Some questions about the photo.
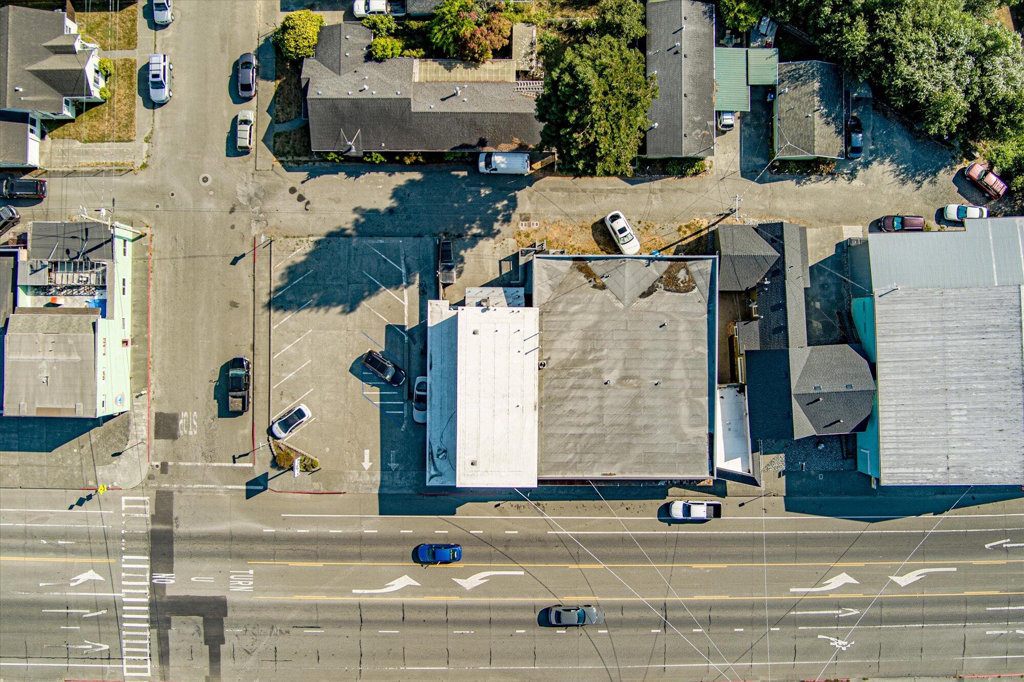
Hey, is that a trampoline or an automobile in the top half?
automobile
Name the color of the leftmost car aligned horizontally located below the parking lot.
blue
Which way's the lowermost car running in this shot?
from left to right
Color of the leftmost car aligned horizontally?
black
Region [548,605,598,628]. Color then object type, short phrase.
gray car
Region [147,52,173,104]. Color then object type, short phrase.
white car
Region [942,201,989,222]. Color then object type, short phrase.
white car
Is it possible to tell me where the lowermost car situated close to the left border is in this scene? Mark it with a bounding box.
[0,204,23,243]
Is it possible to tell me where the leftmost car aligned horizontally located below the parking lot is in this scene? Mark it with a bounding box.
[419,543,462,565]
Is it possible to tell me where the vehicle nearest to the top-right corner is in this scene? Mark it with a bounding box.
[962,164,1013,202]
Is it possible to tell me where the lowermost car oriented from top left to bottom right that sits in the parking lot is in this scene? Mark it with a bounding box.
[359,349,406,388]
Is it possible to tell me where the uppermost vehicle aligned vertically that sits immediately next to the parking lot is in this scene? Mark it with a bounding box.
[437,240,458,286]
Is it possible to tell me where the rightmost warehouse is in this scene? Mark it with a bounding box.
[853,218,1024,488]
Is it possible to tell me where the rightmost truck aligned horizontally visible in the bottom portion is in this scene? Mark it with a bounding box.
[670,500,722,522]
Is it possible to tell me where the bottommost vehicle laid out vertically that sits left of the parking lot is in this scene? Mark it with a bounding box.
[227,357,252,412]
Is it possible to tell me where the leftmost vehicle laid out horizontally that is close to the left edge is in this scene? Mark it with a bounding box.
[0,177,49,199]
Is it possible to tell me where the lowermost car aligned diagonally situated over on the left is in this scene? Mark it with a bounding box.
[272,402,313,441]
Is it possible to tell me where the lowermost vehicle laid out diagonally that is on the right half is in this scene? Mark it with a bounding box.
[604,208,641,255]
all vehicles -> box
[437,240,458,286]
[151,0,176,26]
[354,0,406,16]
[715,111,737,132]
[604,208,641,255]
[235,110,257,153]
[236,53,259,99]
[942,201,989,222]
[878,213,928,233]
[845,117,867,160]
[147,52,173,104]
[670,500,722,522]
[479,152,530,175]
[0,204,23,243]
[962,164,1013,202]
[0,177,49,199]
[272,402,313,441]
[410,377,426,423]
[548,605,598,628]
[227,357,252,412]
[359,349,406,388]
[419,543,462,565]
